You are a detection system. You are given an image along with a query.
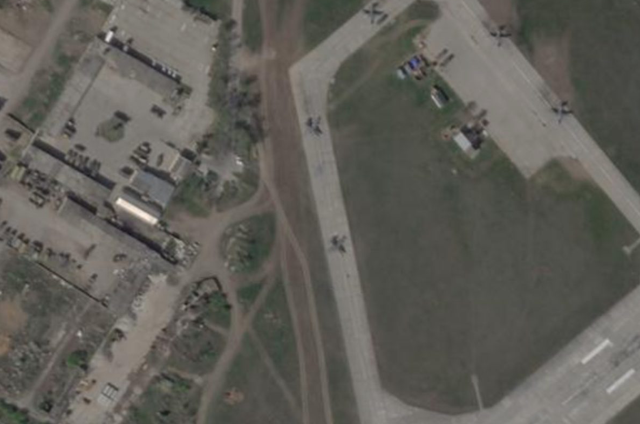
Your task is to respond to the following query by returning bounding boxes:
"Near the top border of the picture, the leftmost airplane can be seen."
[362,1,384,24]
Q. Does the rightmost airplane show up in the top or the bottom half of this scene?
top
